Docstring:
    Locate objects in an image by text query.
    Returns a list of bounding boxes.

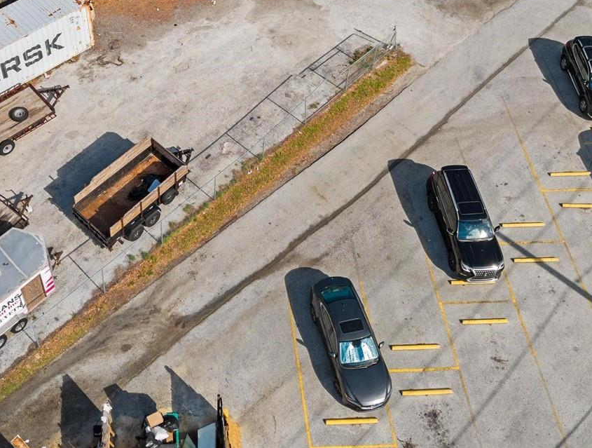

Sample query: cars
[427,164,507,286]
[558,33,592,120]
[309,274,395,415]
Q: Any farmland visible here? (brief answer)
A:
No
